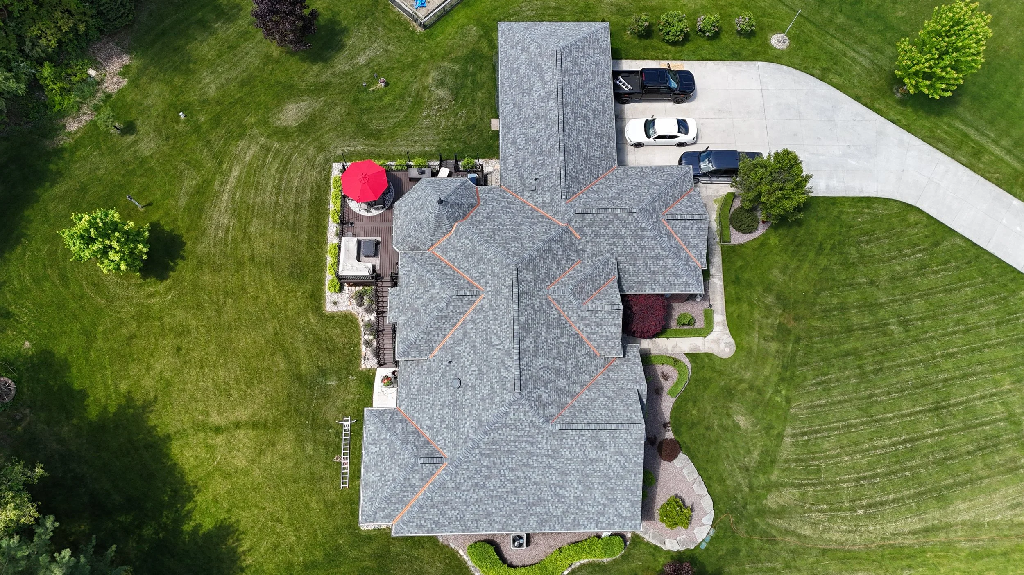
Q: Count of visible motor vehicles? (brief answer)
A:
3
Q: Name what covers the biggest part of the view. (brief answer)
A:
grass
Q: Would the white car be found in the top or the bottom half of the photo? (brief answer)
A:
top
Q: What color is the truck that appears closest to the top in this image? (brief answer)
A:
black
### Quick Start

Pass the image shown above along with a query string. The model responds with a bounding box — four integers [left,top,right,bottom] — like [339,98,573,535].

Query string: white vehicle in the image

[624,114,698,147]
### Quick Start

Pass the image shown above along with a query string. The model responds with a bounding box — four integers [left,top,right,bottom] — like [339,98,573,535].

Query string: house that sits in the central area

[356,19,710,539]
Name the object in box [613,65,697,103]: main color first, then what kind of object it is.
black truck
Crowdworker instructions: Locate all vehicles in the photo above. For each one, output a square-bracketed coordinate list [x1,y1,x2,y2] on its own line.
[613,65,697,103]
[624,114,698,147]
[675,145,765,183]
